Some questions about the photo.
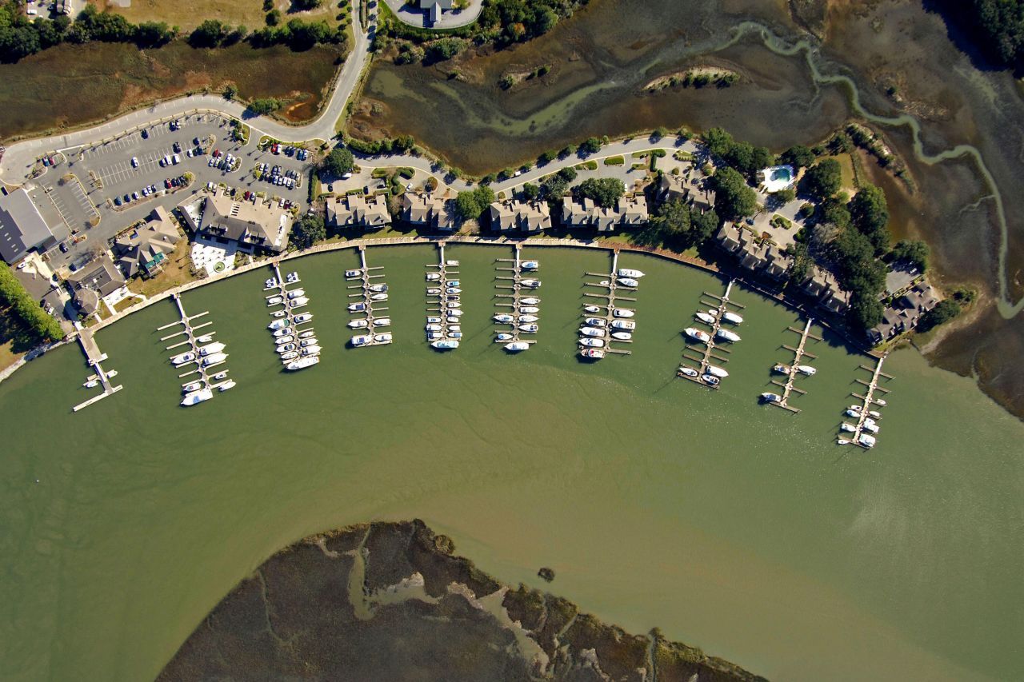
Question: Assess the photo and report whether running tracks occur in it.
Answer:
No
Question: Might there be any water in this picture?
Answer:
Yes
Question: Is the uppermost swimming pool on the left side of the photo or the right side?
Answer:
right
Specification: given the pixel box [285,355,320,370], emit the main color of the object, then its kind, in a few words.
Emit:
white boat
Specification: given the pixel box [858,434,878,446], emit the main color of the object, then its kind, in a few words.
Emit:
white boat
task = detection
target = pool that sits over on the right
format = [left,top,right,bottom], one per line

[764,165,797,192]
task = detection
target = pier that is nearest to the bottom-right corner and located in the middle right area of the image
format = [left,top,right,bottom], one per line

[841,354,893,449]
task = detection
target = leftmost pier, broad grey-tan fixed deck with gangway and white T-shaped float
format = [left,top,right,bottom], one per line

[73,327,122,412]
